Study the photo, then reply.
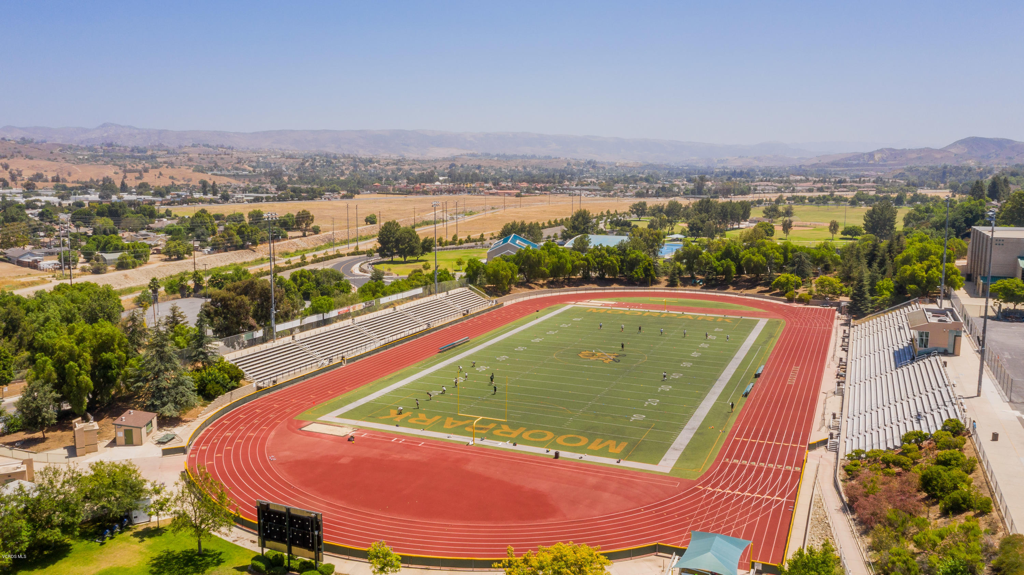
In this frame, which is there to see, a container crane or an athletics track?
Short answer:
athletics track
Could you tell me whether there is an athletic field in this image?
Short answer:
Yes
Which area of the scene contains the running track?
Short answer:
bottom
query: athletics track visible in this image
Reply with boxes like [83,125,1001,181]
[186,291,836,565]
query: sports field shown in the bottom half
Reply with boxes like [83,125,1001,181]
[294,303,787,479]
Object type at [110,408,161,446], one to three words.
shed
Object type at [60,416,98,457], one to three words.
building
